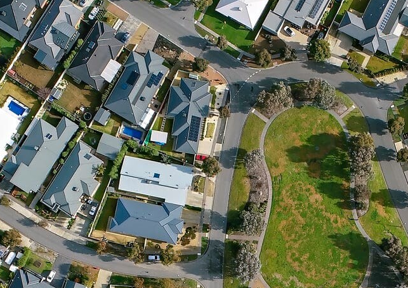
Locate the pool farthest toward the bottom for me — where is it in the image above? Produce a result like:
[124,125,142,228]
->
[119,125,144,142]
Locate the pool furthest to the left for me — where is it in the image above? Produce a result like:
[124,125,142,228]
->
[4,102,26,118]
